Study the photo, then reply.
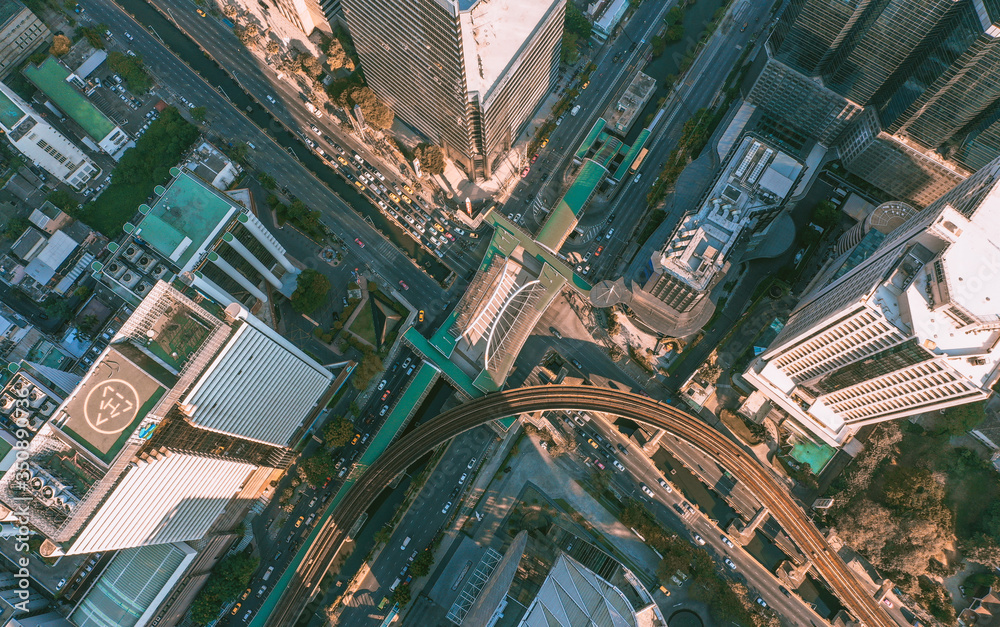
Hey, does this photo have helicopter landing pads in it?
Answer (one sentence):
Yes, the photo shows a helicopter landing pad.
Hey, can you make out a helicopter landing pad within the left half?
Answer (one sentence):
Yes, you'll find a helicopter landing pad within the left half.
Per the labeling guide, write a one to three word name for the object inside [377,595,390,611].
vehicle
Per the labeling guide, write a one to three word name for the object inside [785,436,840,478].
swimming pool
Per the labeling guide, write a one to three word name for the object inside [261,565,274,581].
vehicle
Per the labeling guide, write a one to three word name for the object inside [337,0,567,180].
building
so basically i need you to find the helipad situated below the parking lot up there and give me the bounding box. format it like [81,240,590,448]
[52,346,167,467]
